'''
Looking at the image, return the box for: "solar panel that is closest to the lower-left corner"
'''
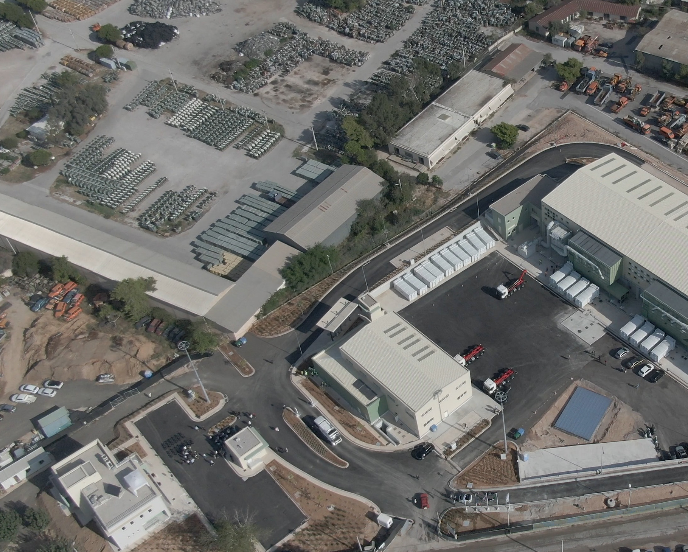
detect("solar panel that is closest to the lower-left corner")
[102,481,123,499]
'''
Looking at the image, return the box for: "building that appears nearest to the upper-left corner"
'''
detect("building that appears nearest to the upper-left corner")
[26,117,63,148]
